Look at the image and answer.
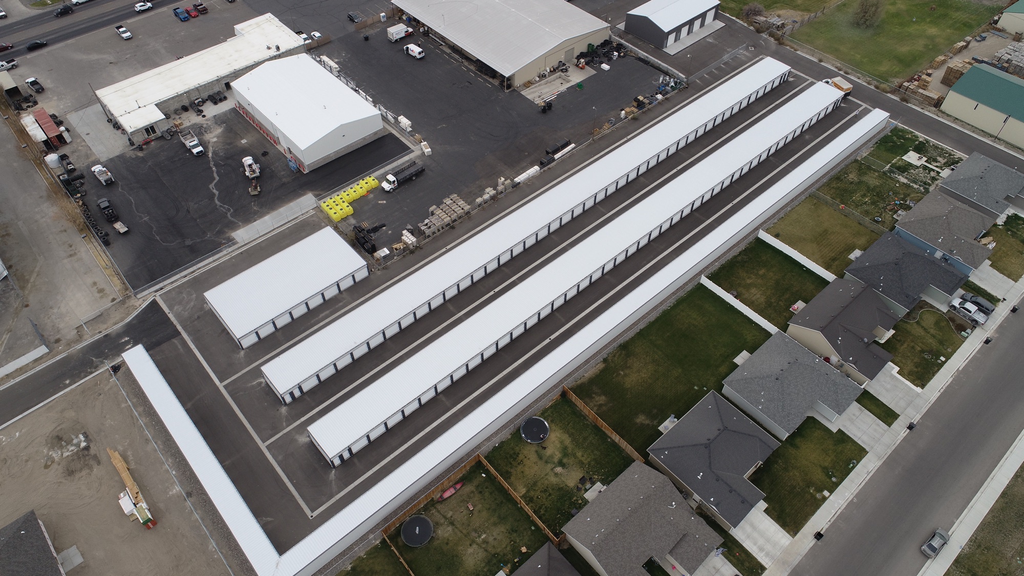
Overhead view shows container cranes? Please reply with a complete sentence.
No, there isn't any container crane down there.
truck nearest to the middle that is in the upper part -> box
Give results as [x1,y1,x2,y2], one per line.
[381,162,430,194]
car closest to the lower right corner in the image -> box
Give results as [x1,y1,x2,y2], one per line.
[918,526,950,561]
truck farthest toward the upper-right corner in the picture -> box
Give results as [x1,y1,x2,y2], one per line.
[819,73,855,98]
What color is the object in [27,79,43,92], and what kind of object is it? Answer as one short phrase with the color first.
black vehicle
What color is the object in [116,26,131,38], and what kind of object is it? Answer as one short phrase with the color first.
white vehicle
